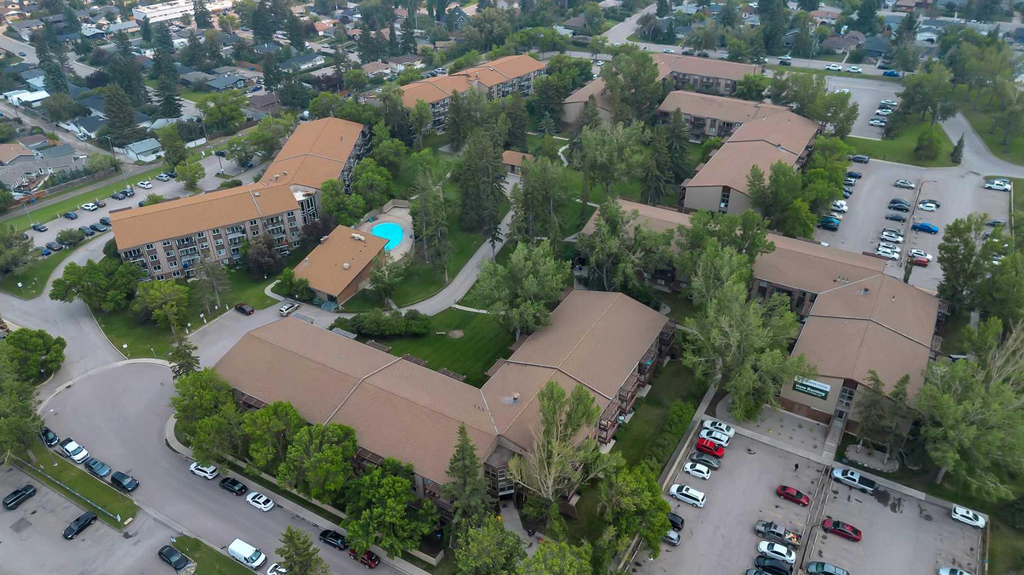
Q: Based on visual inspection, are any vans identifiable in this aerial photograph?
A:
Yes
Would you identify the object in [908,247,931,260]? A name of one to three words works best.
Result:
vehicle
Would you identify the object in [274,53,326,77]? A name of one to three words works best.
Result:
house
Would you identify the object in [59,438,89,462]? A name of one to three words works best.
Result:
truck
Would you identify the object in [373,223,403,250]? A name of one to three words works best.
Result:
swimming pool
